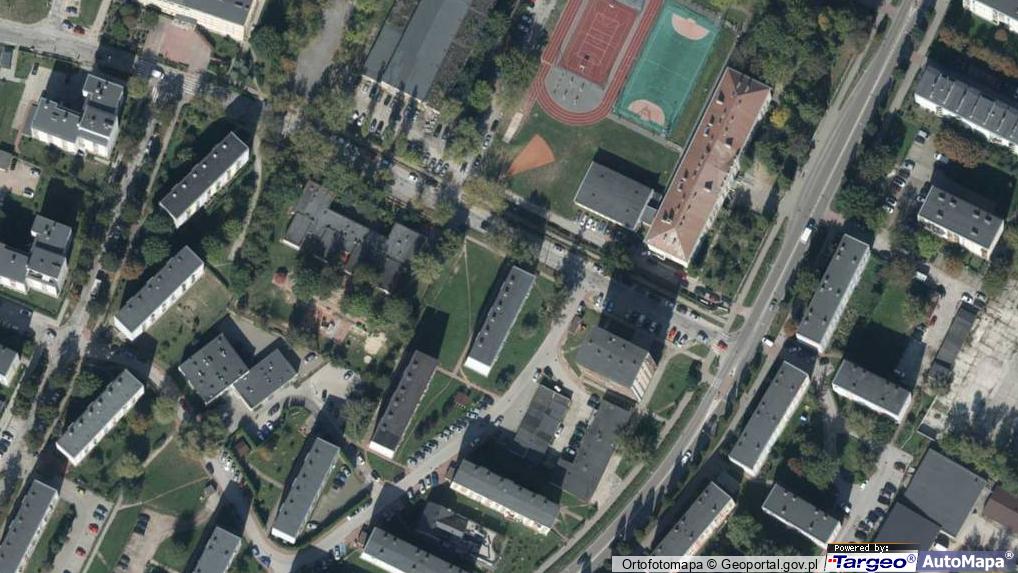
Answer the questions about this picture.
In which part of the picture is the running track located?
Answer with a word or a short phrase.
top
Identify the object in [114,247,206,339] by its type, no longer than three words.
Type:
building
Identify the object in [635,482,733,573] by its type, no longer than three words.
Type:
building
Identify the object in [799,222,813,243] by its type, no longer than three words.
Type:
vehicle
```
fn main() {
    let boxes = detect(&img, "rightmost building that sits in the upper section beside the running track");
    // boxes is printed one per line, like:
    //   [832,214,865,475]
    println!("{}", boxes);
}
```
[643,68,771,268]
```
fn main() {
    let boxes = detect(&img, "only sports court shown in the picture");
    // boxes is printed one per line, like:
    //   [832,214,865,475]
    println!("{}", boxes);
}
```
[561,0,642,85]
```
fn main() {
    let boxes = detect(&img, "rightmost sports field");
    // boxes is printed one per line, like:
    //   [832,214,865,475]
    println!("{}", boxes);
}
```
[615,4,719,134]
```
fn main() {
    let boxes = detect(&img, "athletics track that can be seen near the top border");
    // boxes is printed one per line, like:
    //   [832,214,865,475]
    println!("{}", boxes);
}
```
[519,0,664,125]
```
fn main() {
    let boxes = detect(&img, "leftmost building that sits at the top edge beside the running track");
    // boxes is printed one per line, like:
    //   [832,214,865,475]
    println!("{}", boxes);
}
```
[364,0,490,108]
